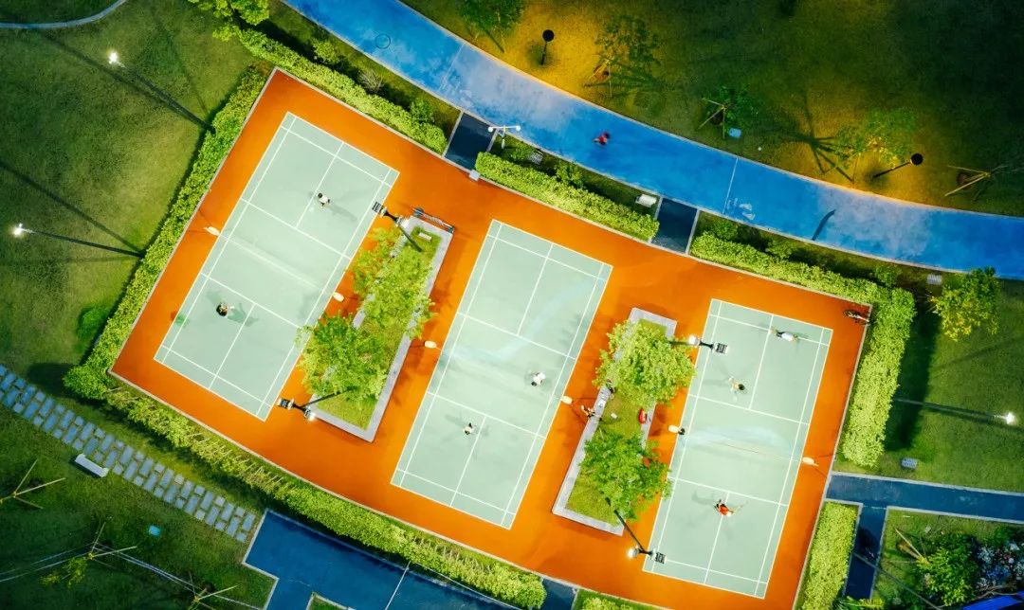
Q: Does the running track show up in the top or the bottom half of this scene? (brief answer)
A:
top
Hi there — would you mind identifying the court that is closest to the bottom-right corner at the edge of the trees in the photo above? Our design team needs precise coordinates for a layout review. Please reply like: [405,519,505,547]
[642,299,834,601]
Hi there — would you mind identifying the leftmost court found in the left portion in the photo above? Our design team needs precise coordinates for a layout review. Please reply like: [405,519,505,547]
[155,113,398,419]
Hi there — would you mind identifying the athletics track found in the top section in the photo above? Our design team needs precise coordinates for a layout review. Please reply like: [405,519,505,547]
[282,0,1024,282]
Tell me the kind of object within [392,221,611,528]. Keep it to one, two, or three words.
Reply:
sports court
